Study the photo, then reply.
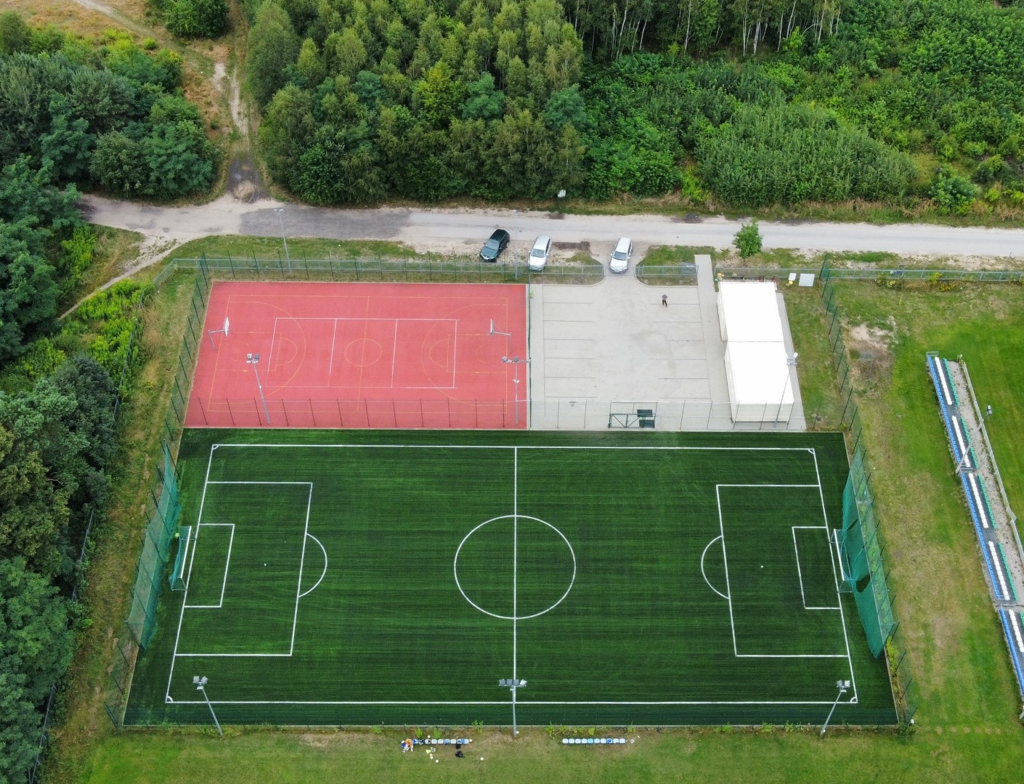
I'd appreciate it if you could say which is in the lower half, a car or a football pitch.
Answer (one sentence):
What appears in the lower half is a football pitch.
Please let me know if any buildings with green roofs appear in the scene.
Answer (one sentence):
No, the picture doesn't show any building with a green roof.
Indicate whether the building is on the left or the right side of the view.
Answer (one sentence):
The building is on the right side of the image.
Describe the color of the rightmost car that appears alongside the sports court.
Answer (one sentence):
The color of the rightmost car that appears alongside the sports court is white.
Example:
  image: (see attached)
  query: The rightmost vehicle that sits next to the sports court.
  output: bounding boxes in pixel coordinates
[528,231,554,270]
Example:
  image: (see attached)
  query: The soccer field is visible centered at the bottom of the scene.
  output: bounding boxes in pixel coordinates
[120,428,901,729]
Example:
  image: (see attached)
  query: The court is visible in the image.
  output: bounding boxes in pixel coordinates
[182,281,806,431]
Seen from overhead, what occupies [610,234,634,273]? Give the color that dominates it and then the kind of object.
white car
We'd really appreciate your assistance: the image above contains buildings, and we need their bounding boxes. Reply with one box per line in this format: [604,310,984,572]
[718,282,793,421]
